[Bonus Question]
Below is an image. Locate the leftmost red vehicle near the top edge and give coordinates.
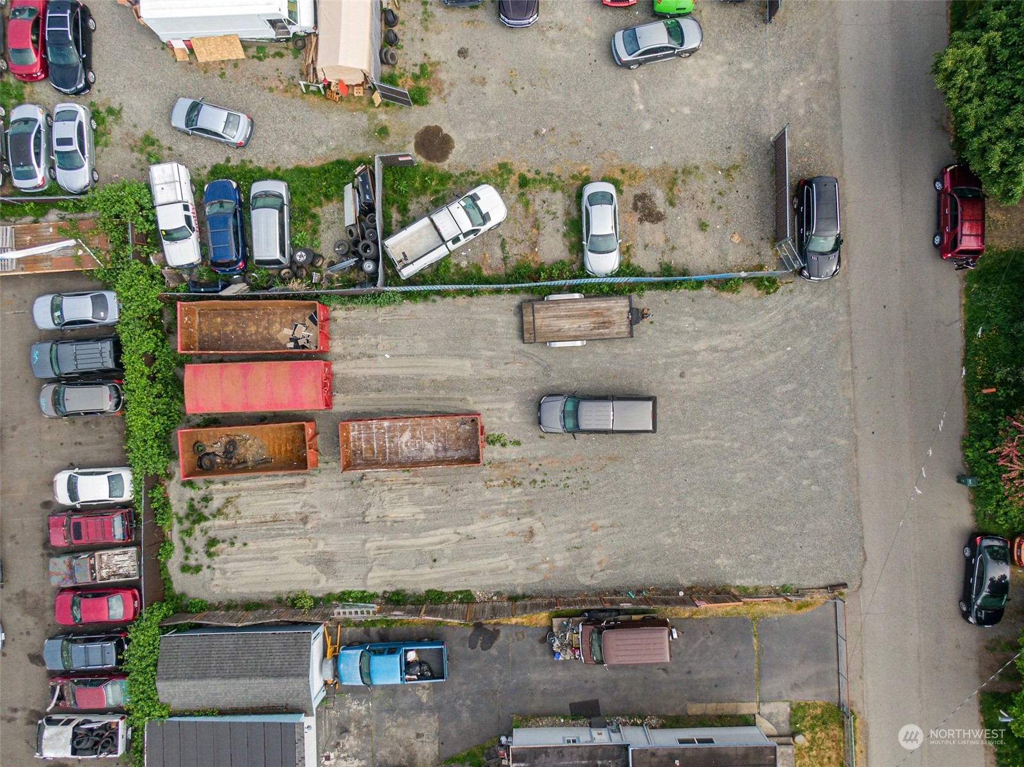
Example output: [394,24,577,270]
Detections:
[1,0,51,82]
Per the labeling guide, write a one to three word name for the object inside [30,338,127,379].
car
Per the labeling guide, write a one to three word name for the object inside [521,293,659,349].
trailer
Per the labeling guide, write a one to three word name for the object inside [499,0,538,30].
truck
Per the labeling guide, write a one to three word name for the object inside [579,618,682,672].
van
